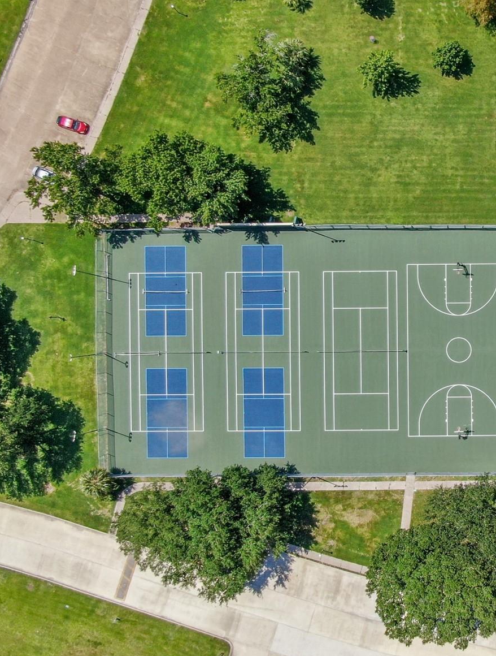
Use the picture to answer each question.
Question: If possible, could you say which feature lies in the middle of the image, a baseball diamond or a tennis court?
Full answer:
Looking in the middle of the image, you will find a tennis court.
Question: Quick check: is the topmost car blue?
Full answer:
No, from above the topmost car looks red.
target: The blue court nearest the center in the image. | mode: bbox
[242,245,284,336]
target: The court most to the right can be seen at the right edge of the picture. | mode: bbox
[407,264,496,437]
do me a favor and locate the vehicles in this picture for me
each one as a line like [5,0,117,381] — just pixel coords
[28,164,59,183]
[53,112,88,133]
